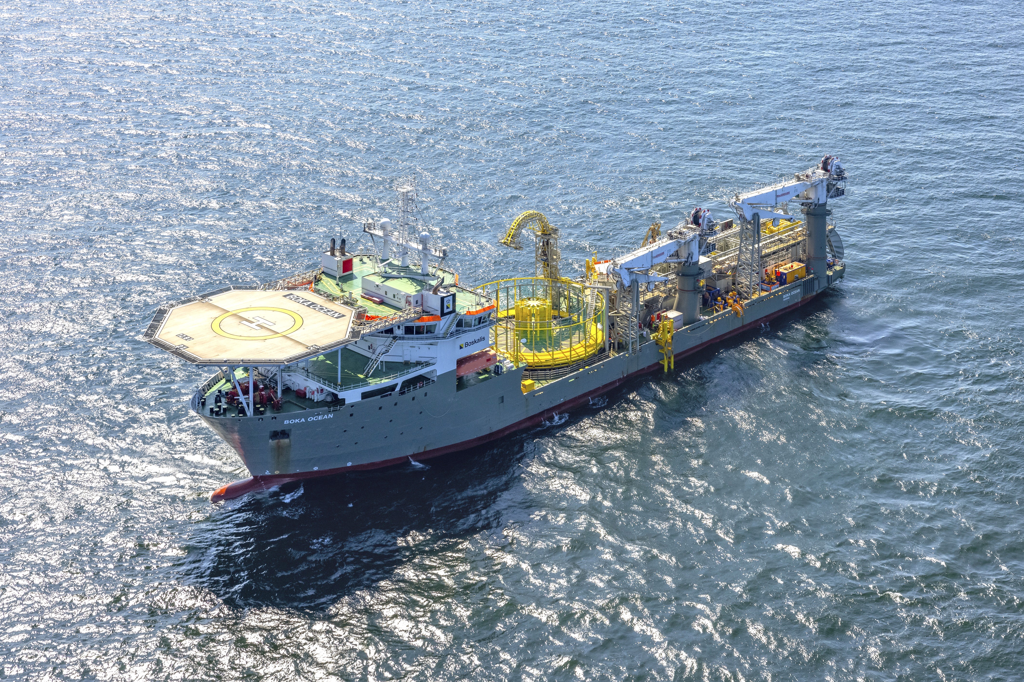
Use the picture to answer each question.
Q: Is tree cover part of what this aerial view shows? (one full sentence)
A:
No, there is no tree cover in the image.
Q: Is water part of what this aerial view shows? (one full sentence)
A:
Yes, there's water in this view.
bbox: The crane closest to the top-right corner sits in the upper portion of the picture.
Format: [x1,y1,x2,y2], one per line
[722,152,854,270]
